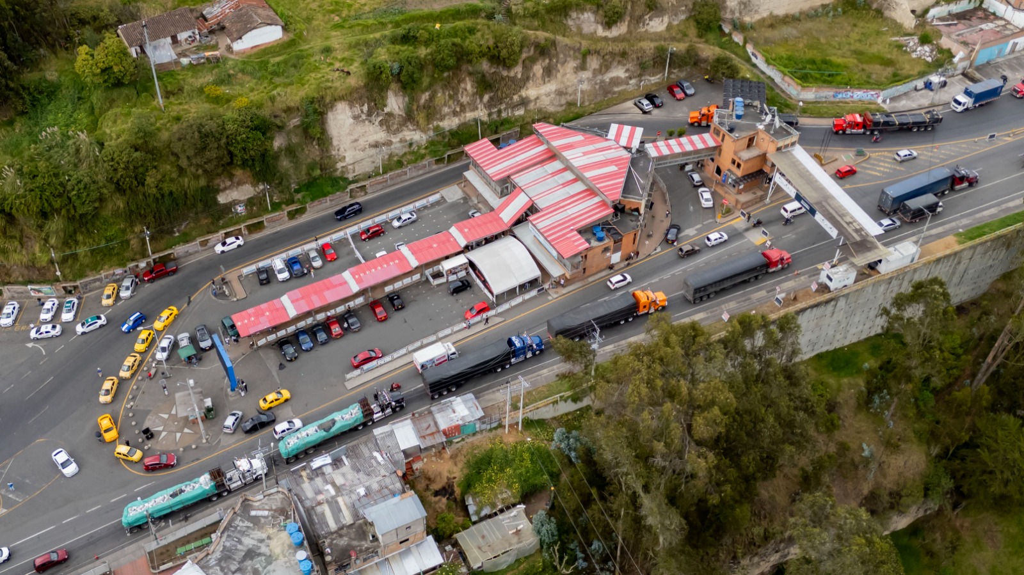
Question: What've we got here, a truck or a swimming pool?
truck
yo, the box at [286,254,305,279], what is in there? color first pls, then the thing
blue vehicle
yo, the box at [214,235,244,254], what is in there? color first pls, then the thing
white car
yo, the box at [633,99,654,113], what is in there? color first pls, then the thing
gray car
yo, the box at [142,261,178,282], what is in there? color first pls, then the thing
red truck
